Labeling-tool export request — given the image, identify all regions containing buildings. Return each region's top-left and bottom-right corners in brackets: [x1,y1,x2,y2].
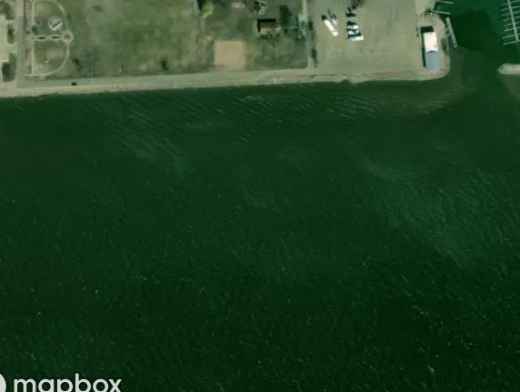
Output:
[423,32,441,72]
[258,20,277,34]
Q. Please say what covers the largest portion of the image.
water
